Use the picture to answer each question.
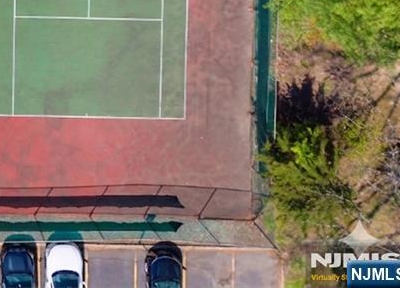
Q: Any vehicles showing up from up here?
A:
Yes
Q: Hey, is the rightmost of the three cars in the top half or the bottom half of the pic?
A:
bottom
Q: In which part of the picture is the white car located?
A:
bottom left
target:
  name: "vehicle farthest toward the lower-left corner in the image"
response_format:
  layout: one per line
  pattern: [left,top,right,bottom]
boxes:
[0,242,42,288]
